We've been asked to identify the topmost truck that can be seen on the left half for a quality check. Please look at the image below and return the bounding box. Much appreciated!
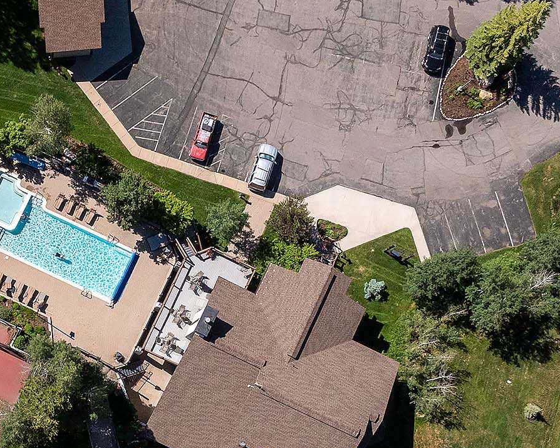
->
[190,107,223,162]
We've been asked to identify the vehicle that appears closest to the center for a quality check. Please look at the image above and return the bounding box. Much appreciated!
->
[251,141,281,192]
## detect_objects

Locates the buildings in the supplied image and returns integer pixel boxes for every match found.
[147,258,399,448]
[39,0,104,60]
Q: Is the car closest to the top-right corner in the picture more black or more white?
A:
black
